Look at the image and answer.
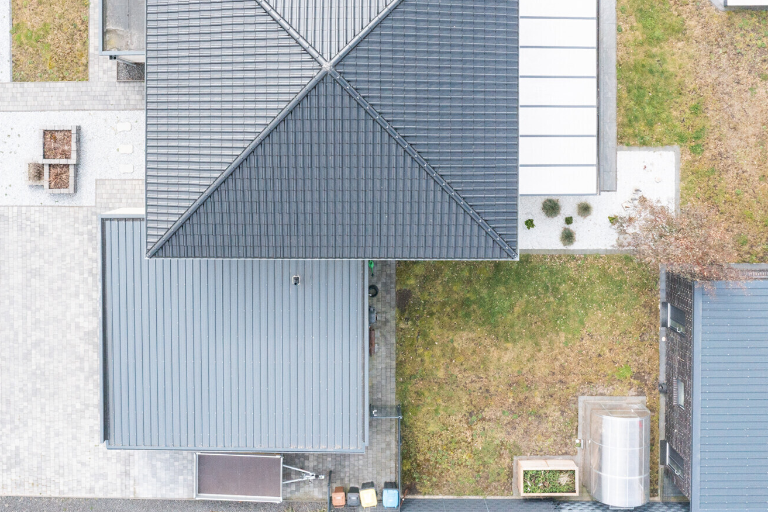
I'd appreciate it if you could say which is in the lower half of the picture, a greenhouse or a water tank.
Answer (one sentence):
Looking in the lower half of the picture, you will find a greenhouse.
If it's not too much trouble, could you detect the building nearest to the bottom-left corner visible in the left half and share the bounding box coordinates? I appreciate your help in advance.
[100,211,369,453]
